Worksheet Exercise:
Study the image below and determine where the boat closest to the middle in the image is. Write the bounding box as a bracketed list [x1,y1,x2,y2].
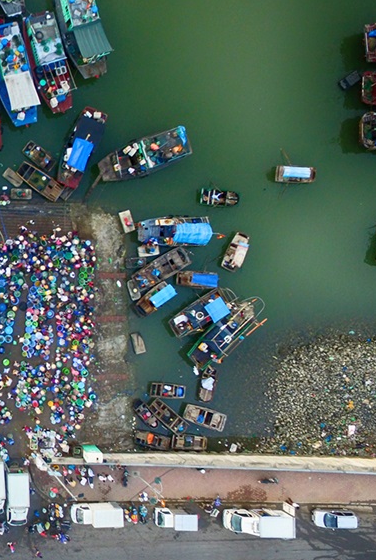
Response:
[173,271,219,288]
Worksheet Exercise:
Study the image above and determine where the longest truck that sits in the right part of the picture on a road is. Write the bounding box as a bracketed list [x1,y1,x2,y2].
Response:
[222,507,305,540]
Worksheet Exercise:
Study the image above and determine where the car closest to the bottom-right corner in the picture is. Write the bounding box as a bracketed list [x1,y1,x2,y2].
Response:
[313,510,363,534]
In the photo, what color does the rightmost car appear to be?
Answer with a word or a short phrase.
white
